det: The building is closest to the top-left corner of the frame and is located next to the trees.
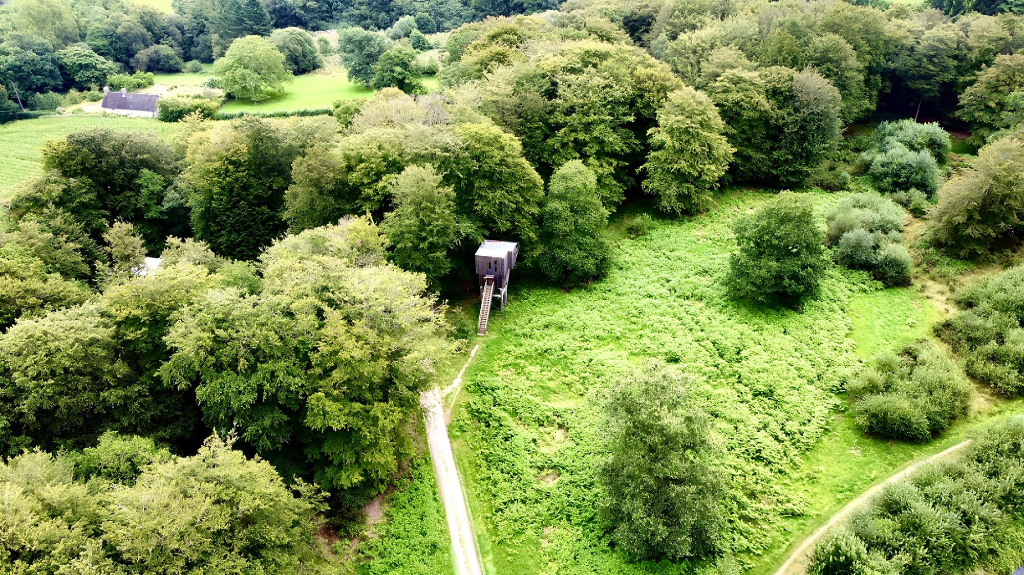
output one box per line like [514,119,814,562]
[100,88,159,121]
